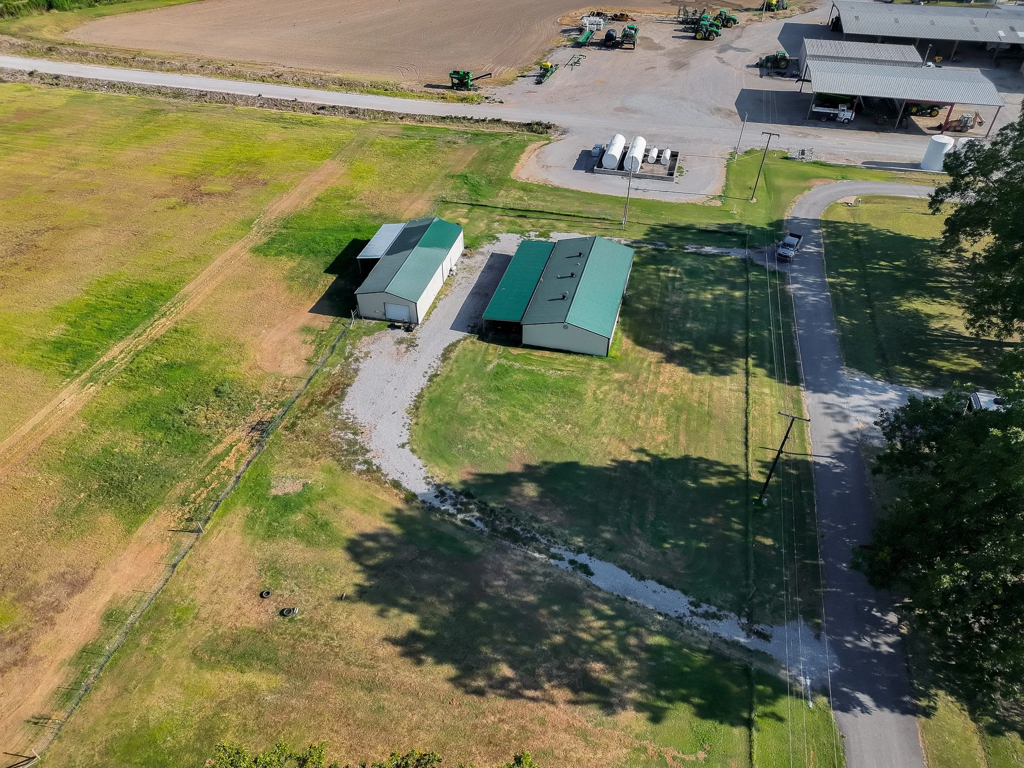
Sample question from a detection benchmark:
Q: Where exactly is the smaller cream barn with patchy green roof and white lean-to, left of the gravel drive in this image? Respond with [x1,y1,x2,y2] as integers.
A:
[352,215,464,329]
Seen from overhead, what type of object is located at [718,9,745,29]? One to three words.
work vehicle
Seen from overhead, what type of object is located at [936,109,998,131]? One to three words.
work vehicle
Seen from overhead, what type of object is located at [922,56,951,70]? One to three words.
vehicle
